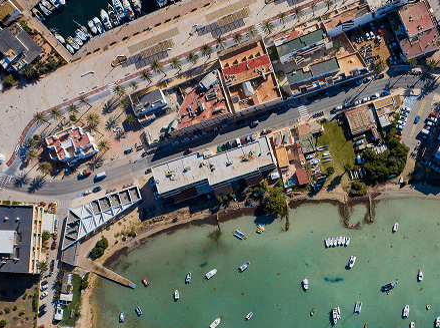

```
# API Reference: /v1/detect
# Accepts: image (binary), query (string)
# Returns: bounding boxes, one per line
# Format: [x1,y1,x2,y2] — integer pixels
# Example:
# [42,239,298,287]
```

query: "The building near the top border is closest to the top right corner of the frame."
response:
[395,0,436,40]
